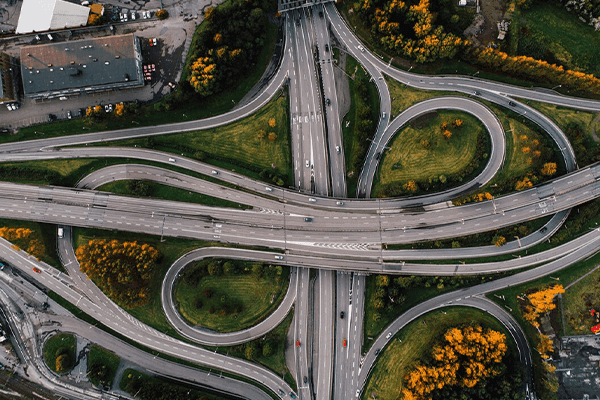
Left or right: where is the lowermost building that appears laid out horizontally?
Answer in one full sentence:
The lowermost building that appears laid out horizontally sits on the left side.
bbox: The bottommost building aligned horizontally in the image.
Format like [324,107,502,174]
[19,34,146,101]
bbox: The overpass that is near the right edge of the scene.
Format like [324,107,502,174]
[543,169,595,212]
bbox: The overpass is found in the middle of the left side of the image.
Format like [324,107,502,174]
[39,186,101,227]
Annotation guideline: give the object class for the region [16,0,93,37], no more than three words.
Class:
building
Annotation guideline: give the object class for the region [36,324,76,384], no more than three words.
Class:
roundabout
